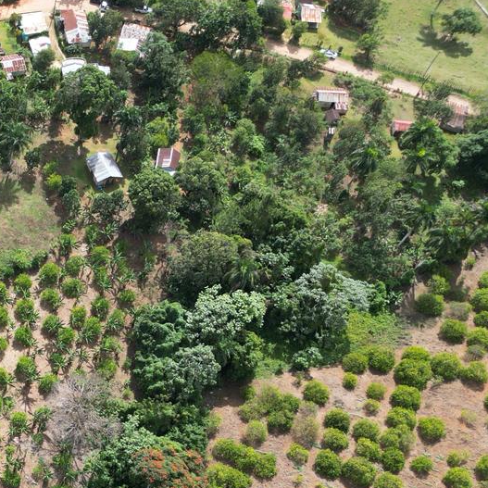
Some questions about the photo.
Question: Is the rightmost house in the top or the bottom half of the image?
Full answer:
It is in the top half that the rightmost house appears.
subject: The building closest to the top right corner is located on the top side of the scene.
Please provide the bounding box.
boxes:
[443,102,468,136]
